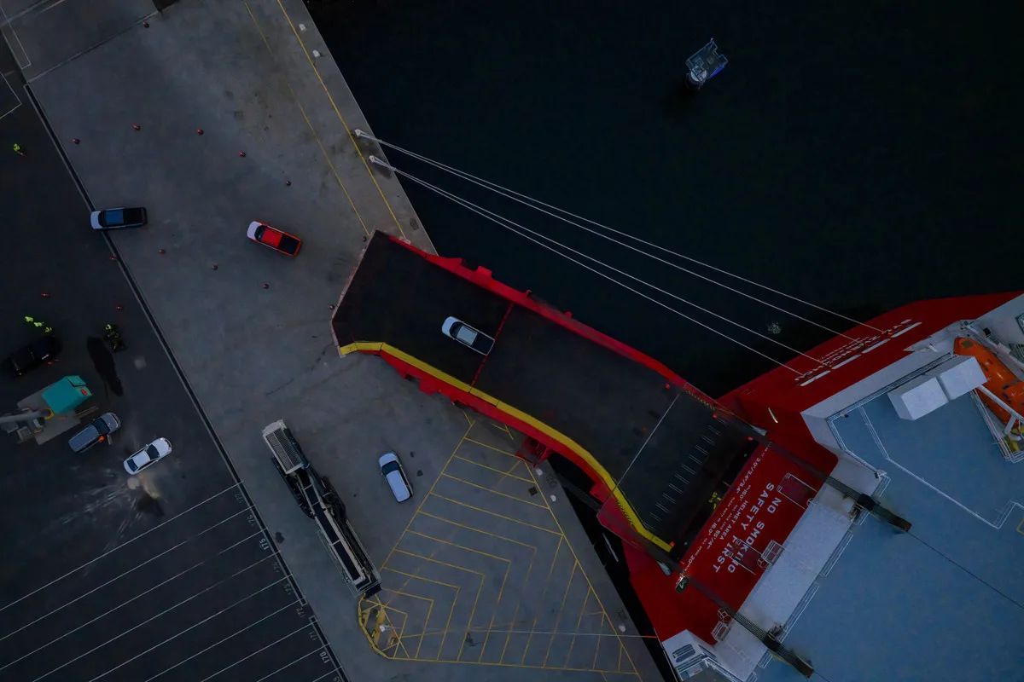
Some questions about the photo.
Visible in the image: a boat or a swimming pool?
boat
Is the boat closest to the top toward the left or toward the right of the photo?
right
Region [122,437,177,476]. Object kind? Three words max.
car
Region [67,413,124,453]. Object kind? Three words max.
car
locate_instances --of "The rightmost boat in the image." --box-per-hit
[955,337,1024,426]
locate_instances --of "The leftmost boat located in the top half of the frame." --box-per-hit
[683,38,728,91]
